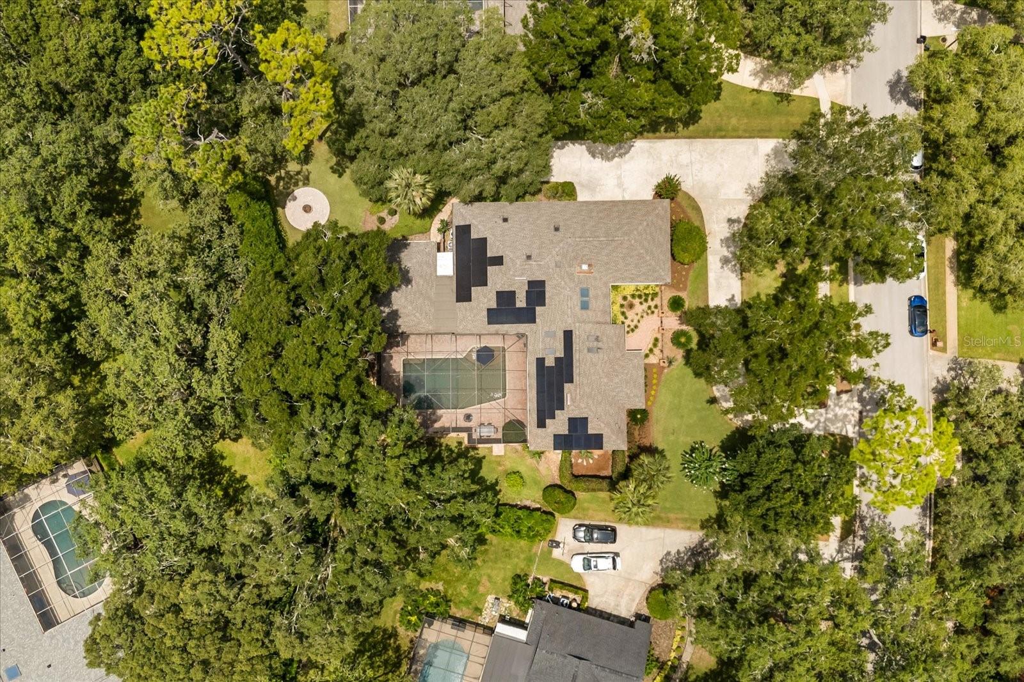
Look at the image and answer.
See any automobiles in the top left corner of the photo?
No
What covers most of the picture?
trees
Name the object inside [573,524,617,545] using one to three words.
car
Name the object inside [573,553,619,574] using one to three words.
car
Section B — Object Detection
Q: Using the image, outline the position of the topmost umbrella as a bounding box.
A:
[477,345,494,366]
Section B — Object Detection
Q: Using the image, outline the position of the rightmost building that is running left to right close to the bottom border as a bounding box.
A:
[470,598,652,682]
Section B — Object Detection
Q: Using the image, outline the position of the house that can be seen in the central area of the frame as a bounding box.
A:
[366,199,672,450]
